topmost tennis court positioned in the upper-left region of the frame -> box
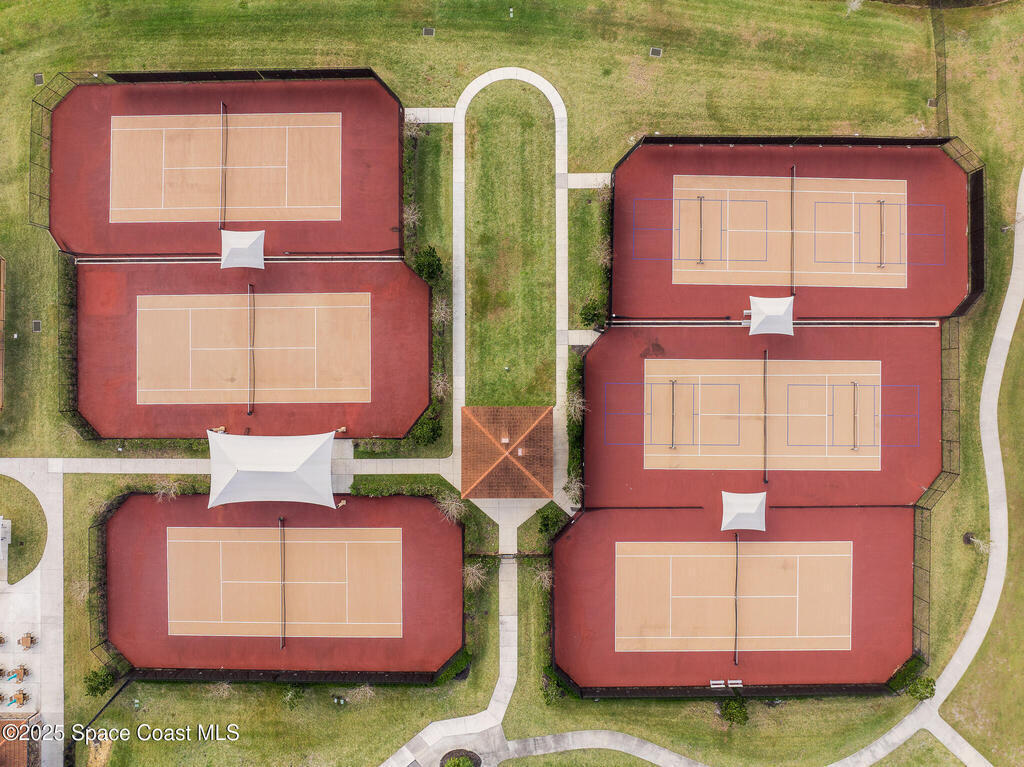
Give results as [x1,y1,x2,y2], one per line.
[49,80,401,258]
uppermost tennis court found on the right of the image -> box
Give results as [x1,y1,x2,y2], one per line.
[609,145,968,321]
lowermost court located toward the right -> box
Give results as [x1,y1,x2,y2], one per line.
[554,507,914,686]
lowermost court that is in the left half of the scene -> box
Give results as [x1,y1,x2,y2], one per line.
[106,494,461,671]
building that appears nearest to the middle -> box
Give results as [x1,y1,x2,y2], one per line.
[461,406,554,500]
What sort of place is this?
sports ground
